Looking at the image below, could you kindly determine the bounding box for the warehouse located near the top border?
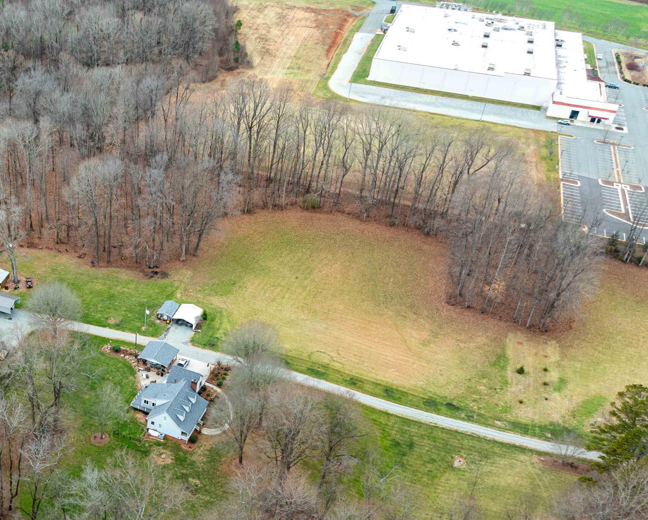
[369,6,619,124]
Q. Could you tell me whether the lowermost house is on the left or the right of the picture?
left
